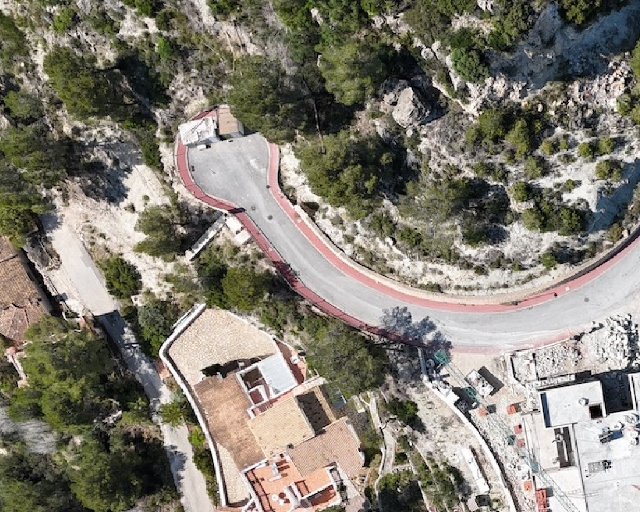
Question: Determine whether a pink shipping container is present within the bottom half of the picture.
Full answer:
No, no pink shipping container is visible within the bottom half of the picture.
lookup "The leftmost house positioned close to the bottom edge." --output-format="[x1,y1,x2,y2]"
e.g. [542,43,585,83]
[194,339,367,512]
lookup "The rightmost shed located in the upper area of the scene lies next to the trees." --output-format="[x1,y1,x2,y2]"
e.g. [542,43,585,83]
[218,106,250,140]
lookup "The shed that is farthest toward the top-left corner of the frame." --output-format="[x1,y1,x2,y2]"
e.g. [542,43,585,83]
[179,116,226,149]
